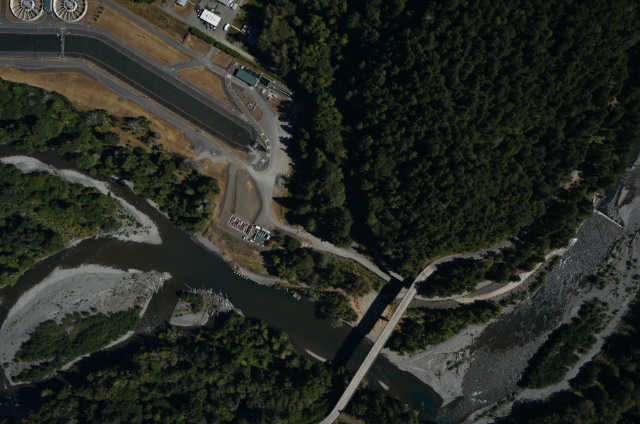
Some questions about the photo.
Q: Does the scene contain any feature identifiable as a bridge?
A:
Yes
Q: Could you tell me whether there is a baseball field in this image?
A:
No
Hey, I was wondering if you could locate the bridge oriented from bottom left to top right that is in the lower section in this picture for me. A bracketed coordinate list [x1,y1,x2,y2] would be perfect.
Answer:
[334,269,428,413]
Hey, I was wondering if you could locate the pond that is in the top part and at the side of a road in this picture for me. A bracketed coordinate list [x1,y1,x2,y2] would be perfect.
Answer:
[0,26,258,151]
